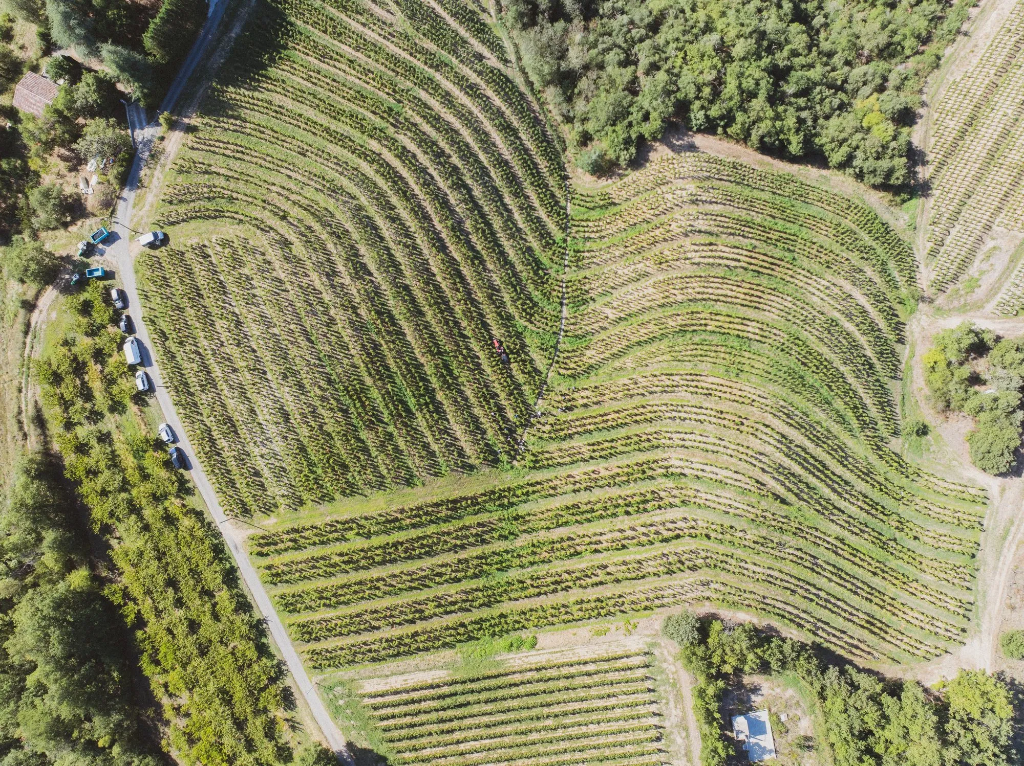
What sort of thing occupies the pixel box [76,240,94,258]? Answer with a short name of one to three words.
work vehicle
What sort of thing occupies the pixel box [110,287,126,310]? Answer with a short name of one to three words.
car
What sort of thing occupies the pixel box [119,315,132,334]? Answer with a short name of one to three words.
vehicle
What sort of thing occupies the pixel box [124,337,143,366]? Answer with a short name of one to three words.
vehicle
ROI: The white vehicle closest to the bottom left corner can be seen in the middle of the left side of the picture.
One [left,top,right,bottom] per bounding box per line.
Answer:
[159,423,174,444]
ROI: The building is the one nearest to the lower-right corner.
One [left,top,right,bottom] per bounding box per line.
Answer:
[729,711,748,739]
